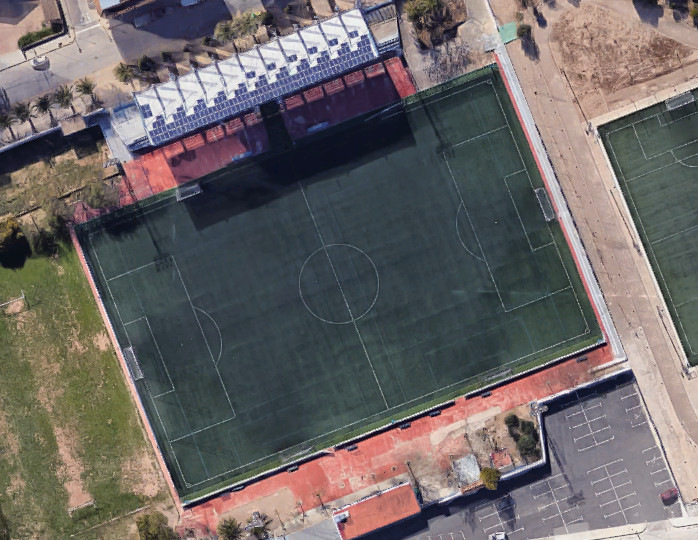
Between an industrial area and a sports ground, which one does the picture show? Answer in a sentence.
The picture captures a sports ground.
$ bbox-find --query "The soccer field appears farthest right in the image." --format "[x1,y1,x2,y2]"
[601,90,698,367]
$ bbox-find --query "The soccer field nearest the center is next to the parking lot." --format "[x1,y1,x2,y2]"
[76,65,607,505]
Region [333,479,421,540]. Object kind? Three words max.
building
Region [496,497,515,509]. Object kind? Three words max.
vehicle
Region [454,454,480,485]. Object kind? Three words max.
shed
